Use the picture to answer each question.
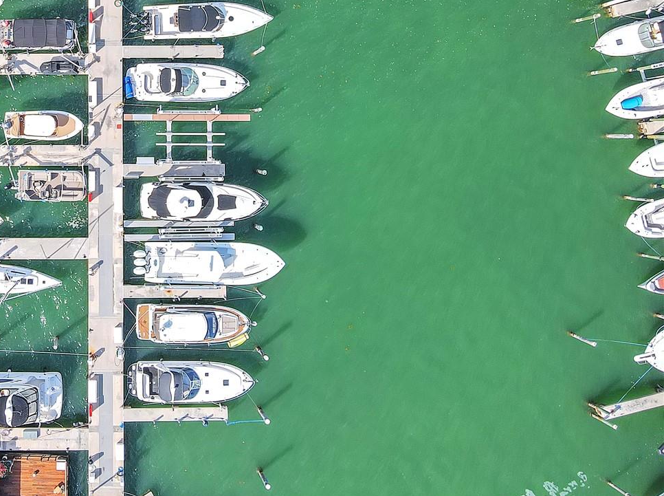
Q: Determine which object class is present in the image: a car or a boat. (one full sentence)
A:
This aerial view contains a boat.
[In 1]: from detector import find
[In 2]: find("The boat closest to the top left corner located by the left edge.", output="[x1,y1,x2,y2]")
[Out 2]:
[0,18,76,49]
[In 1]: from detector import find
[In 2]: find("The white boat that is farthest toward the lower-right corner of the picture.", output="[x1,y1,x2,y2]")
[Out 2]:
[635,327,664,369]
